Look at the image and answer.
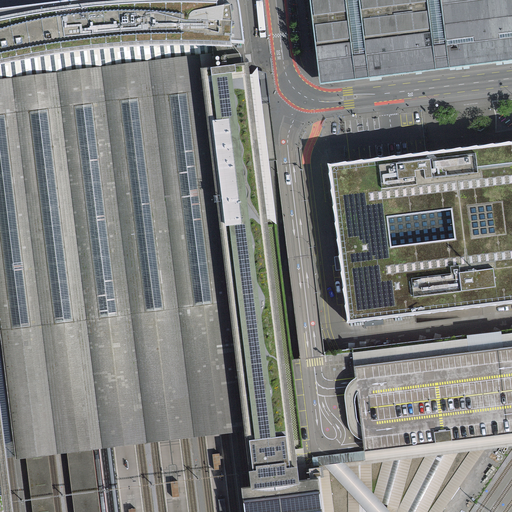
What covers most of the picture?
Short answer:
buildings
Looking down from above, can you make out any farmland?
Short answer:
No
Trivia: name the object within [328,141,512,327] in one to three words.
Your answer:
building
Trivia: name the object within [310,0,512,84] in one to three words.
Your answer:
building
